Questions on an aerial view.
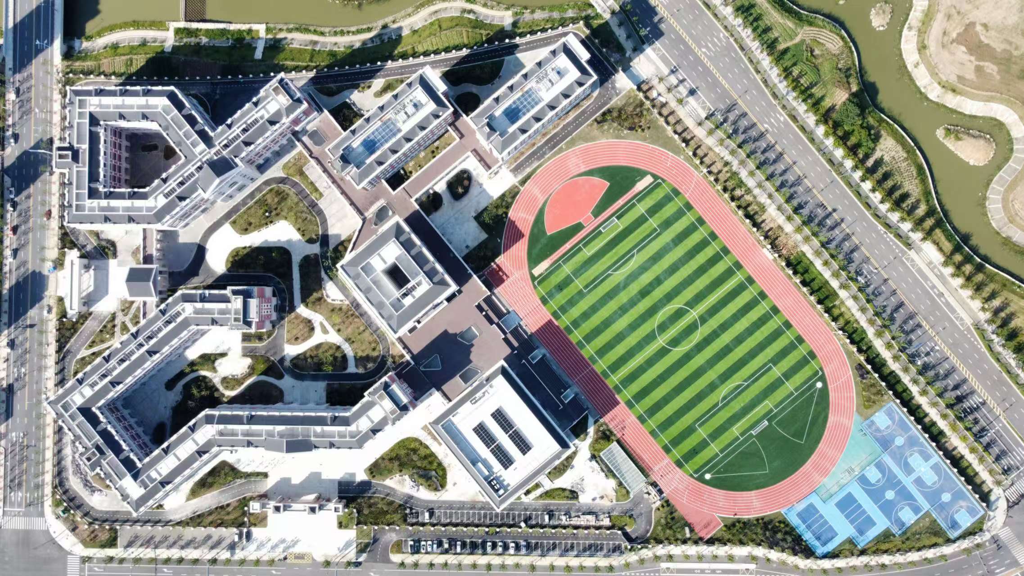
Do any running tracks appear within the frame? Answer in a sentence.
Yes, the frame does contain a running track.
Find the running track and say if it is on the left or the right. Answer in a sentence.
The running track sits on the right side.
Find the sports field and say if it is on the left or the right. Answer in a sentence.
It is on the right.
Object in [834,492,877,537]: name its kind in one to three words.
sports court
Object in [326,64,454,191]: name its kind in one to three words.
building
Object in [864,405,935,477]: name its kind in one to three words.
basketball court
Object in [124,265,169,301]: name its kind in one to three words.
building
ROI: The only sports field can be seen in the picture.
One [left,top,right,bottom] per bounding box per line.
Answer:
[529,165,827,490]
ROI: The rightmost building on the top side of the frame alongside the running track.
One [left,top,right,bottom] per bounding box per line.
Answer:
[468,32,598,167]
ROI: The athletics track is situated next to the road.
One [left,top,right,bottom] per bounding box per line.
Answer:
[502,139,854,539]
